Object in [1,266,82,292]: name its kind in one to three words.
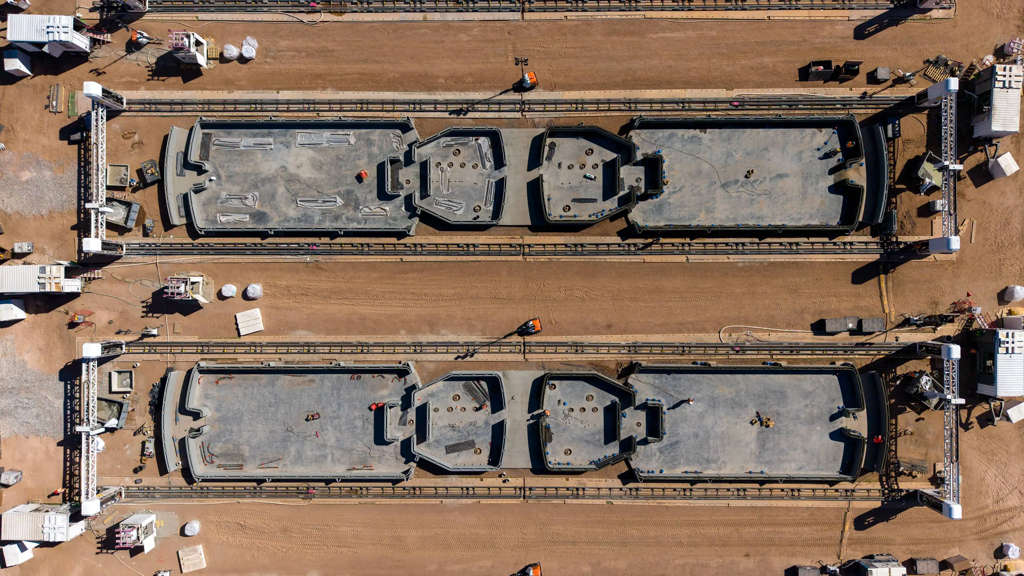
shipping container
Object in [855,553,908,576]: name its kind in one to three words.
truck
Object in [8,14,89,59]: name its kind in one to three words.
shipping container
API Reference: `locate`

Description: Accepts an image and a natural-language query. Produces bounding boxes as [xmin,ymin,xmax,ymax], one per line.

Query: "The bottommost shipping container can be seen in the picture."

[3,505,85,541]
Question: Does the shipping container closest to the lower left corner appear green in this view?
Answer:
No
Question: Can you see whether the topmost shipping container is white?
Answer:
Yes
